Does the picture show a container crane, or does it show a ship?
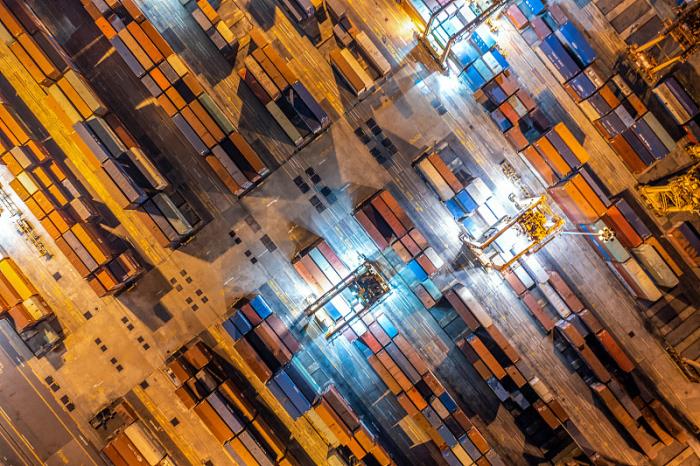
container crane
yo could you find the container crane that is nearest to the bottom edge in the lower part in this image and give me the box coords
[302,251,395,341]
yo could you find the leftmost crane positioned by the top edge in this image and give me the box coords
[412,0,507,70]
